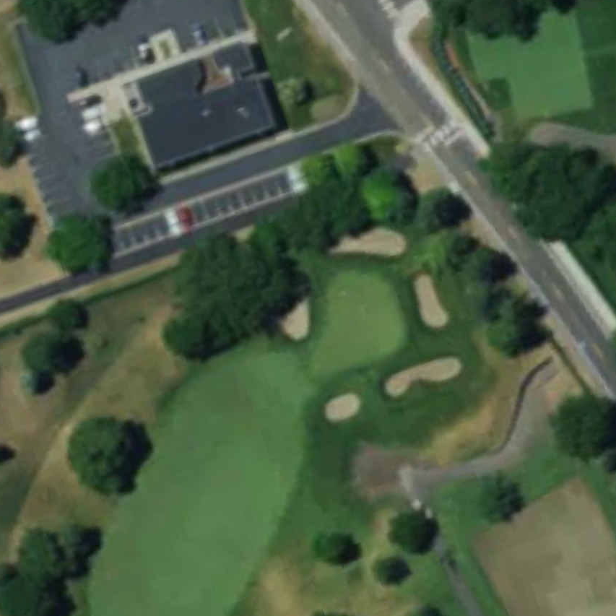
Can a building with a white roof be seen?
No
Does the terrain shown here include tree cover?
Yes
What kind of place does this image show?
golf course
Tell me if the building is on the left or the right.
left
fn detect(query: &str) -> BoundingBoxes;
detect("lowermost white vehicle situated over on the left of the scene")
[166,209,181,235]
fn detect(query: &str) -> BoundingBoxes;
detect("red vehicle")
[178,205,191,228]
